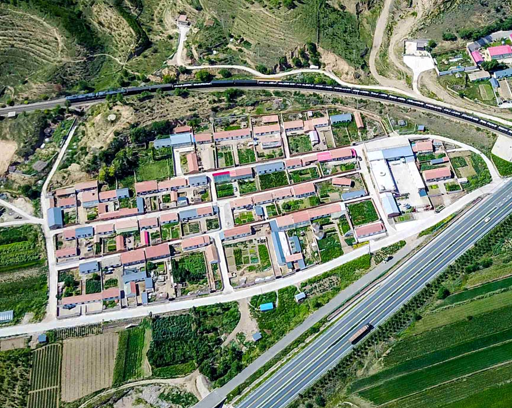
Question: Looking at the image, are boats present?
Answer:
No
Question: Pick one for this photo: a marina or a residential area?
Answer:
residential area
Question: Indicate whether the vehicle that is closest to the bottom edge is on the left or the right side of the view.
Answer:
right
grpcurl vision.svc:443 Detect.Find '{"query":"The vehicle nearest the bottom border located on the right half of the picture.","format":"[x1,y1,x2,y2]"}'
[349,322,372,343]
